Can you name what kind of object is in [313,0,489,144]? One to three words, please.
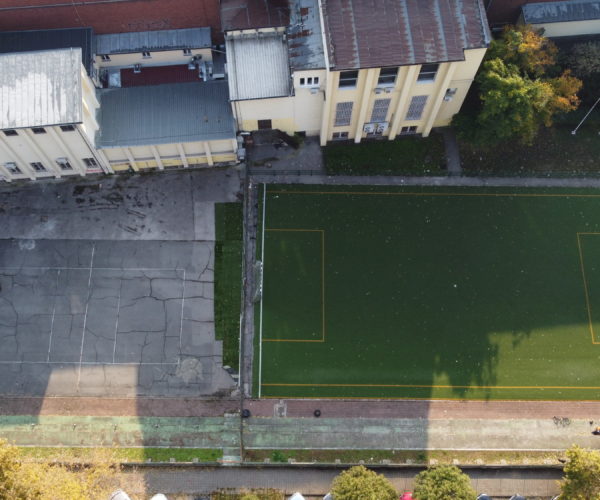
building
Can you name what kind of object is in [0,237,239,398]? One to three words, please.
sports court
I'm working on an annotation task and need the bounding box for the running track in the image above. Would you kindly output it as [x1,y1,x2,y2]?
[0,397,600,449]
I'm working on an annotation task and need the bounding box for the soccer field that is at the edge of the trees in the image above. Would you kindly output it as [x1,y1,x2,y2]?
[255,184,600,402]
